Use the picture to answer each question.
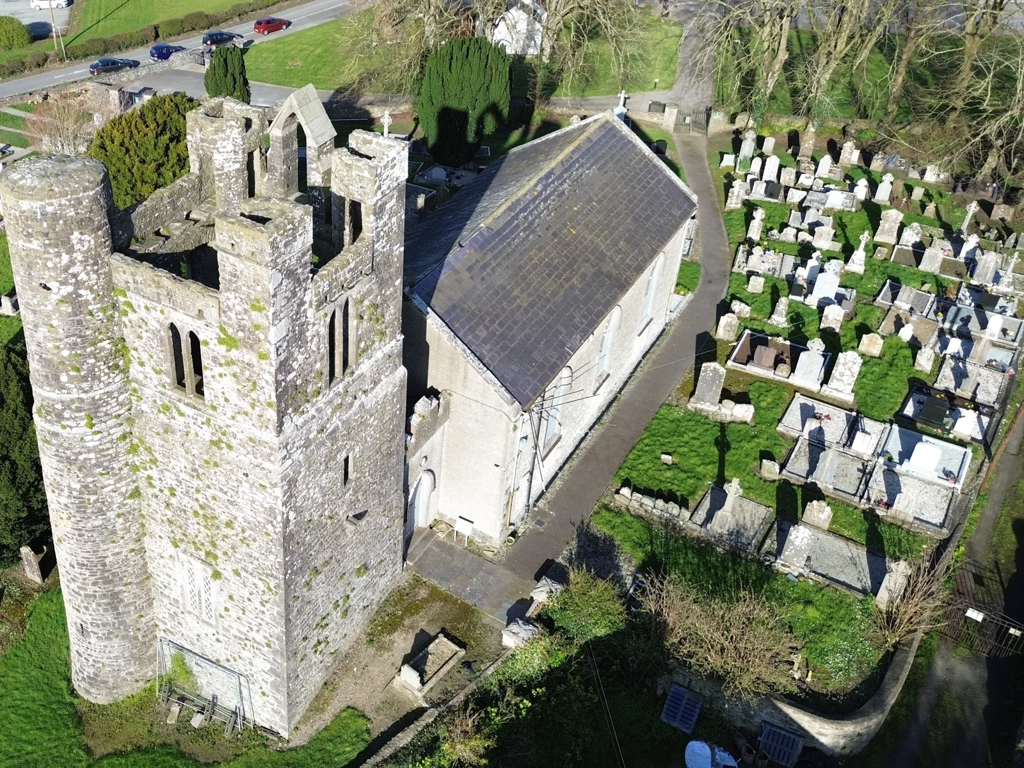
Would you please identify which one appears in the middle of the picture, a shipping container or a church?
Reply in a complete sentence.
The one visible in the middle of the picture is a church.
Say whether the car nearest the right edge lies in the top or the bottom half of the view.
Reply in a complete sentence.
It is in the top half that the car nearest the right edge appears.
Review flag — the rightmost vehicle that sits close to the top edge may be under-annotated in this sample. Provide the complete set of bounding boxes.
[252,14,292,35]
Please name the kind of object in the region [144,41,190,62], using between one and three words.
car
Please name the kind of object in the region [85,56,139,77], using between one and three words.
car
